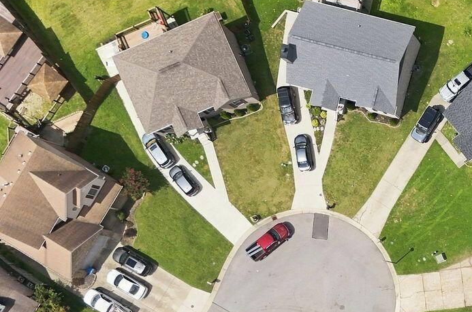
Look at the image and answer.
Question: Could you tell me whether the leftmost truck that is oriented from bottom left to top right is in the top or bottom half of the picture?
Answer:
bottom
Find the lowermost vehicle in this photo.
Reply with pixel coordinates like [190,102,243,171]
[80,286,137,312]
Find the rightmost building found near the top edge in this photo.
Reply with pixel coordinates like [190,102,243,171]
[282,0,420,123]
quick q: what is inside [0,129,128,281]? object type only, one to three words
house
